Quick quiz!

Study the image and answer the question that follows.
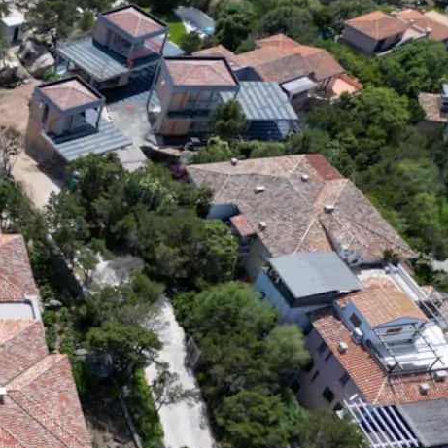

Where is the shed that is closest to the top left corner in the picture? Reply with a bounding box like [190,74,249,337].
[1,13,25,44]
